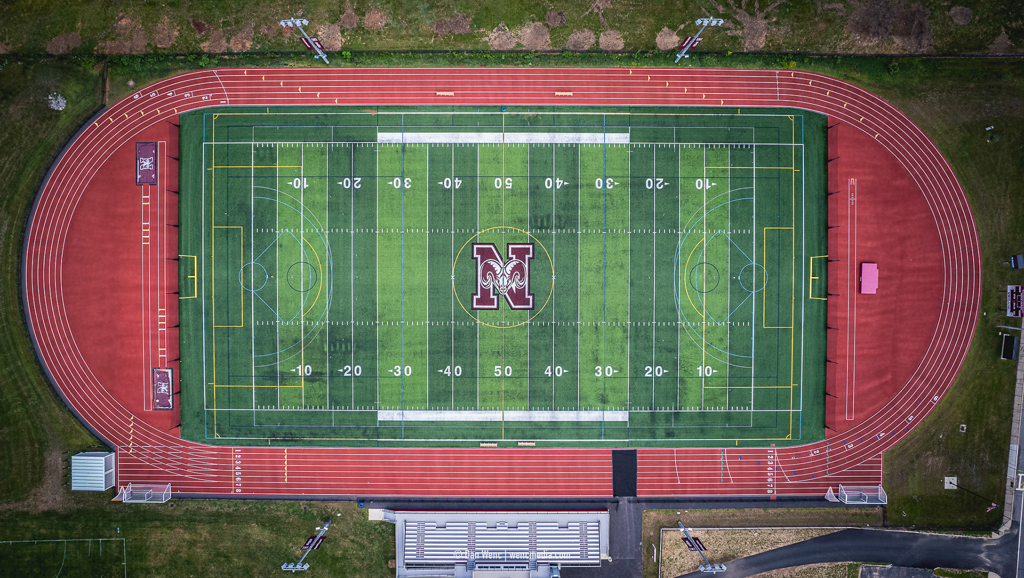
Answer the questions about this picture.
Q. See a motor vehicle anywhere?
No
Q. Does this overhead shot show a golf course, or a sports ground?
sports ground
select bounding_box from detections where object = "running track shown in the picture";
[25,67,981,498]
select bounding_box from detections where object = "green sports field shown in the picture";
[179,106,828,447]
